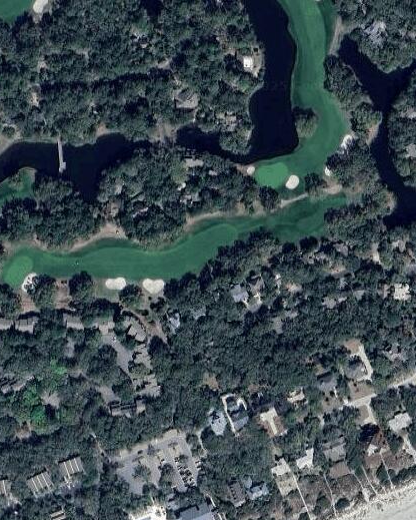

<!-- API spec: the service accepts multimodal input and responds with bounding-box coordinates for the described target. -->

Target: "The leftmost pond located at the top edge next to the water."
[178,0,299,164]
